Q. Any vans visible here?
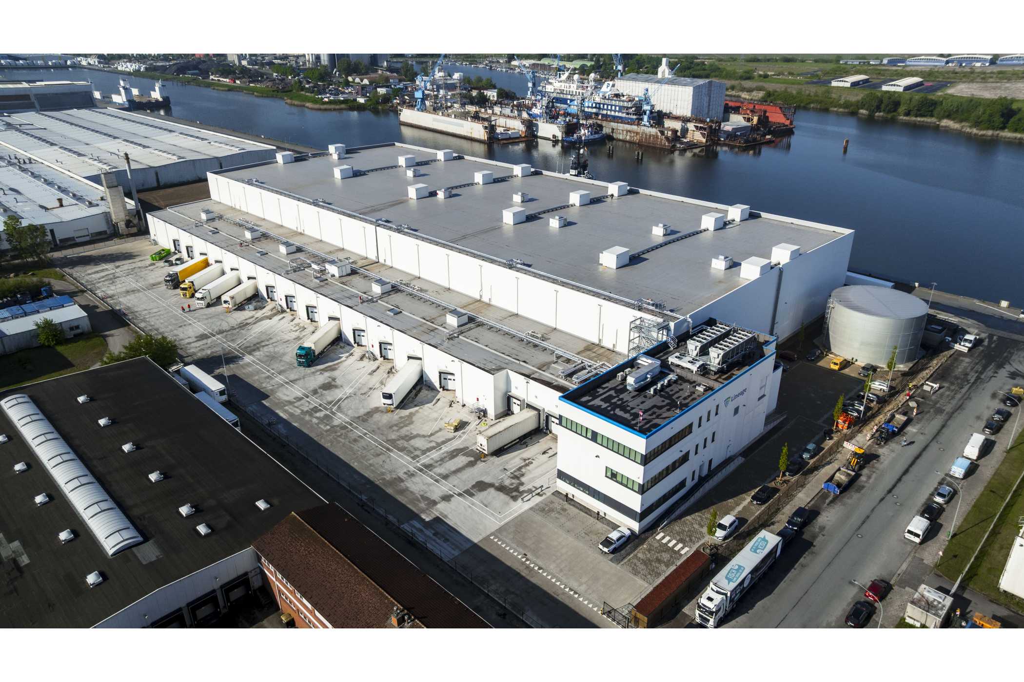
Yes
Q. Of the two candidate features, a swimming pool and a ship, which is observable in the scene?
ship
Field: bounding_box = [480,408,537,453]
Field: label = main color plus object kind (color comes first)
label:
white trailer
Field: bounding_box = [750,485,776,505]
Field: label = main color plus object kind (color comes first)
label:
black car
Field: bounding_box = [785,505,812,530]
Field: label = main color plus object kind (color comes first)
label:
black car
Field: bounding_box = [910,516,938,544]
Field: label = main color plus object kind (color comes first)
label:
white van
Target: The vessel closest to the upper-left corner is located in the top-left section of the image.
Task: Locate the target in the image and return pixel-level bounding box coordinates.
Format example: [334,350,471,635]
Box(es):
[110,73,170,106]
